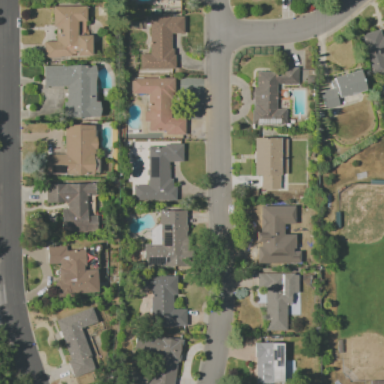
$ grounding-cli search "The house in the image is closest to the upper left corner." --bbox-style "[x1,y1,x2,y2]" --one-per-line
[45,6,94,57]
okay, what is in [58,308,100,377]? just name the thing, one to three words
house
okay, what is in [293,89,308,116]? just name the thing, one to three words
swimming pool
